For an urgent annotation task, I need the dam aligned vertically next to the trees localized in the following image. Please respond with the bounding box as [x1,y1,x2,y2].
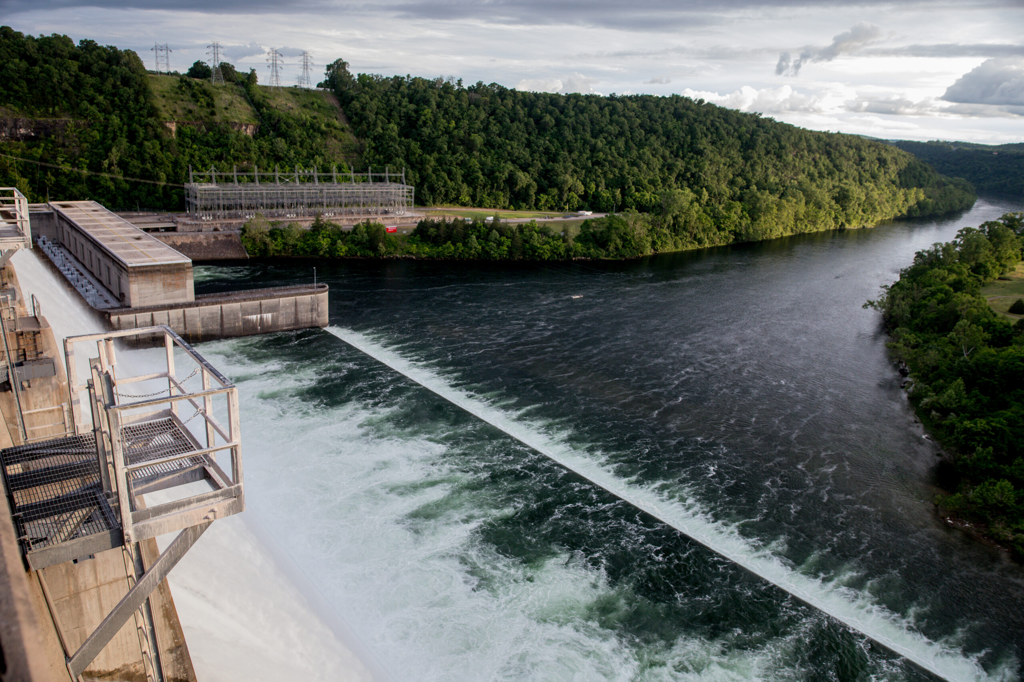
[0,206,194,682]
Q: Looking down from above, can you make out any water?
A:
Yes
